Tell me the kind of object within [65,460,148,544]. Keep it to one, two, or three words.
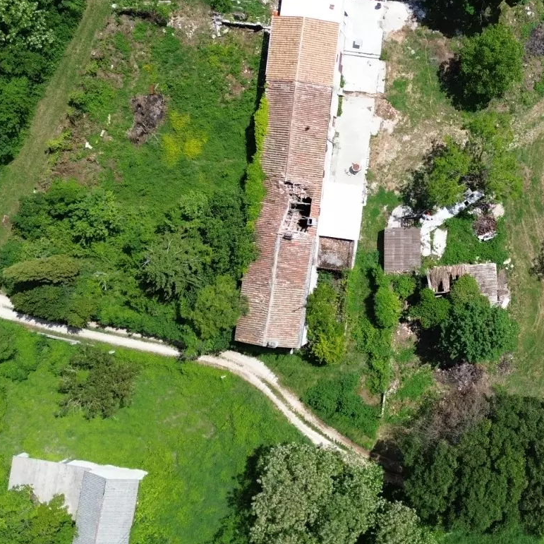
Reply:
shed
